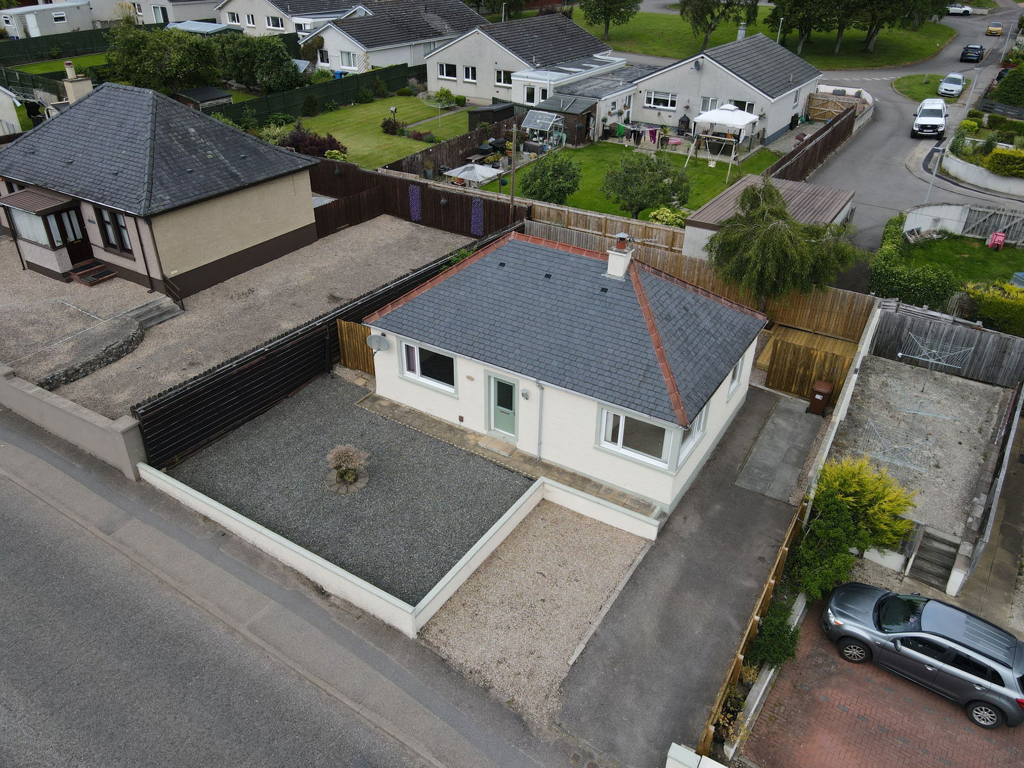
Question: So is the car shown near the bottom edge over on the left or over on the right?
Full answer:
You can find the car shown near the bottom edge on the right side of the picture.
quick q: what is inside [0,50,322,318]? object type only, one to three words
house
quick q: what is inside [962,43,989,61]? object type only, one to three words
car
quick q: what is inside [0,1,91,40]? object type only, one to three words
shed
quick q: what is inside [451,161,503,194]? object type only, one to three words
gazebo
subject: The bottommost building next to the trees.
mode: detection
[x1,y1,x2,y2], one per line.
[358,229,770,514]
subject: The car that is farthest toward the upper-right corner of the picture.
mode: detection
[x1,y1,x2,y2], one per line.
[986,19,1007,35]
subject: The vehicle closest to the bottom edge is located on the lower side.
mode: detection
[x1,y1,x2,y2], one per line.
[823,584,1024,734]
